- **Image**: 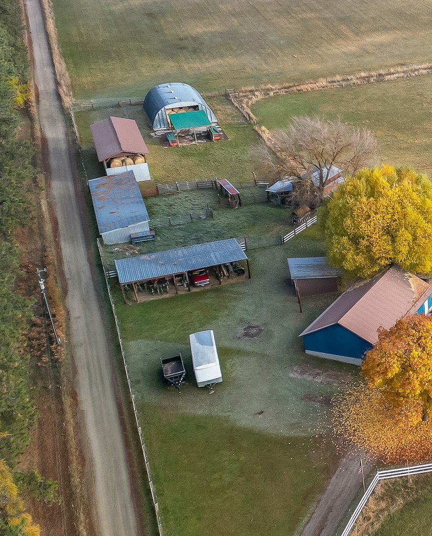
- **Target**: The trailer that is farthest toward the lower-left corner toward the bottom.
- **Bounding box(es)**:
[160,352,188,393]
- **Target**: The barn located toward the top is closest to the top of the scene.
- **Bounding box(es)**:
[147,79,219,130]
